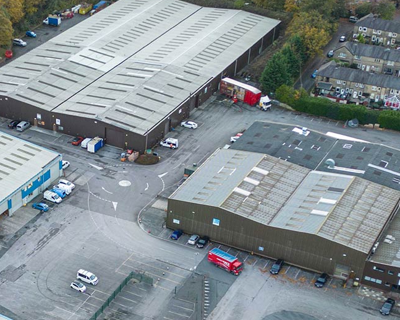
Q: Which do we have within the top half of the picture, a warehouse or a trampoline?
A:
warehouse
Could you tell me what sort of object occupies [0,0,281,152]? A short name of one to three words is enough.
warehouse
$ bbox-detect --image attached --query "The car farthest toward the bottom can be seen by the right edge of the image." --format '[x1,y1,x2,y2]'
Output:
[379,299,393,314]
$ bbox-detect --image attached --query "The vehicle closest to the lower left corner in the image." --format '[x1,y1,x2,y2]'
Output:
[68,279,87,293]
